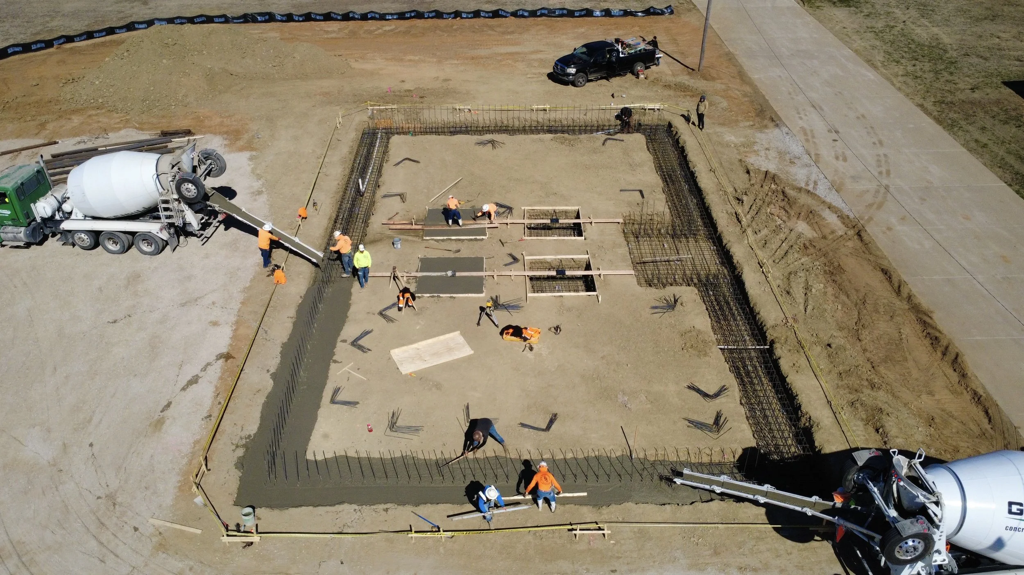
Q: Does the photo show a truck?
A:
Yes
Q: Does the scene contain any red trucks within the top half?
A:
No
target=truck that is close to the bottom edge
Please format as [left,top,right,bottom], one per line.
[669,439,1024,575]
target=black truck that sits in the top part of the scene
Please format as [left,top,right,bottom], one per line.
[547,33,667,86]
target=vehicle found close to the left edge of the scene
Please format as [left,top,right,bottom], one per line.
[0,134,326,267]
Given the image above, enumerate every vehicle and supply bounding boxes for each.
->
[669,439,1024,575]
[0,134,326,267]
[547,33,667,86]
